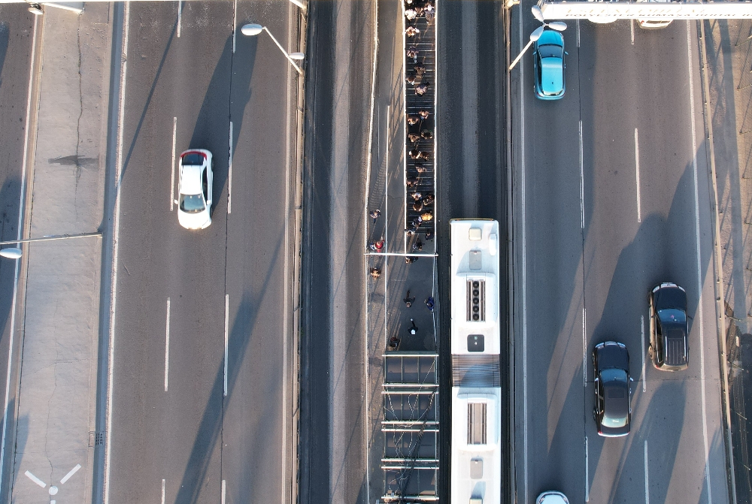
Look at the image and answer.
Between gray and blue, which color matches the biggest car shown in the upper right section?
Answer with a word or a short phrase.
blue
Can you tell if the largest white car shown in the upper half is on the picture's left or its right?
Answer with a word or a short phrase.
left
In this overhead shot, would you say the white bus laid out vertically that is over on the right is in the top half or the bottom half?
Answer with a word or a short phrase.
bottom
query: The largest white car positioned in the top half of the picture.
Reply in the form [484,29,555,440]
[172,149,214,228]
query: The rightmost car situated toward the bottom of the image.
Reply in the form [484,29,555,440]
[647,284,692,369]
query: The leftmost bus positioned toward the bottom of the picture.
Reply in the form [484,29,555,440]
[446,220,501,504]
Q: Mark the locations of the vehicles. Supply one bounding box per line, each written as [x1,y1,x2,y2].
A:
[531,33,570,99]
[446,220,501,504]
[533,491,570,504]
[592,343,634,436]
[637,16,672,27]
[172,149,214,228]
[647,284,692,369]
